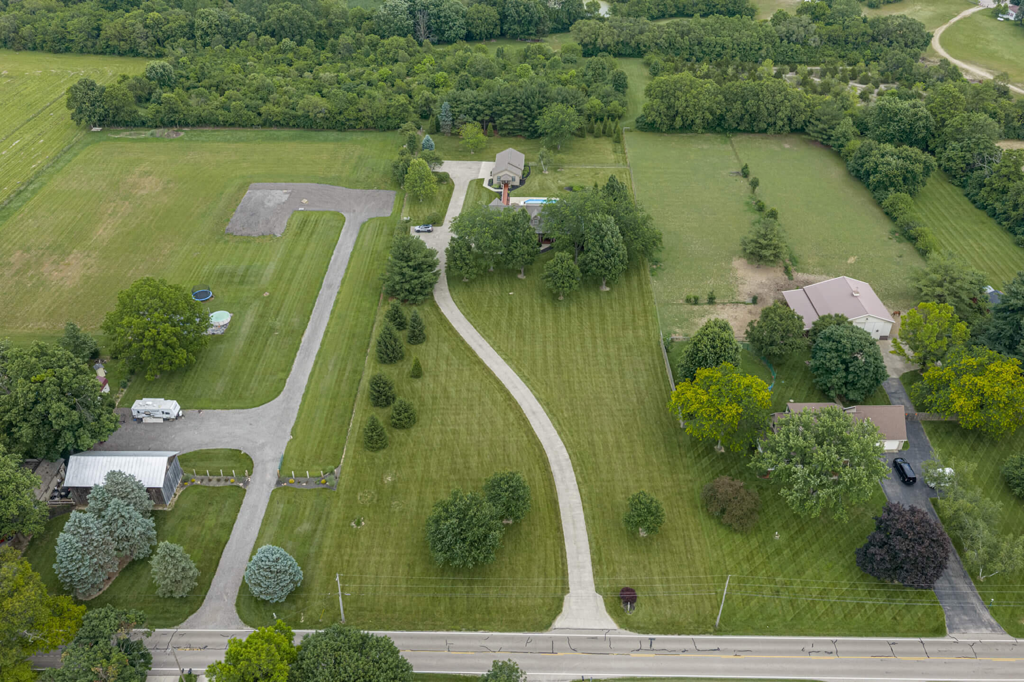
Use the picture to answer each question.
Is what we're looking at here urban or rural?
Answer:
rural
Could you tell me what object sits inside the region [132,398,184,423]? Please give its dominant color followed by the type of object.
white camper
